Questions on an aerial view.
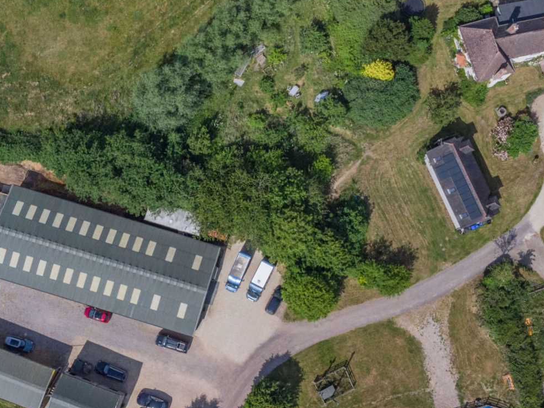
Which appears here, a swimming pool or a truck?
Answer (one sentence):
Visible in the photo is a truck.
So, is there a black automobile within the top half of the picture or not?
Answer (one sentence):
No, looking within the top half of the picture, there is no black automobile.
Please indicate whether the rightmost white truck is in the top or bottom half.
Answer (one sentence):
You can find the rightmost white truck in the bottom half.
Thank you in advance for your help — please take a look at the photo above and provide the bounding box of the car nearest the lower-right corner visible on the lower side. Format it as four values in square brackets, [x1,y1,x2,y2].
[265,287,286,315]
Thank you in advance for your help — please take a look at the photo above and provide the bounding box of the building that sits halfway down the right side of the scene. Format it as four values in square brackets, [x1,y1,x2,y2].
[423,135,501,229]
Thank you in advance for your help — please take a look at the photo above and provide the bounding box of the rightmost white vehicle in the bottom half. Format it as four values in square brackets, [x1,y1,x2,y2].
[244,260,276,303]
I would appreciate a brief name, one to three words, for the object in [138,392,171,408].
car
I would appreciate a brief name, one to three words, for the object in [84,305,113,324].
car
